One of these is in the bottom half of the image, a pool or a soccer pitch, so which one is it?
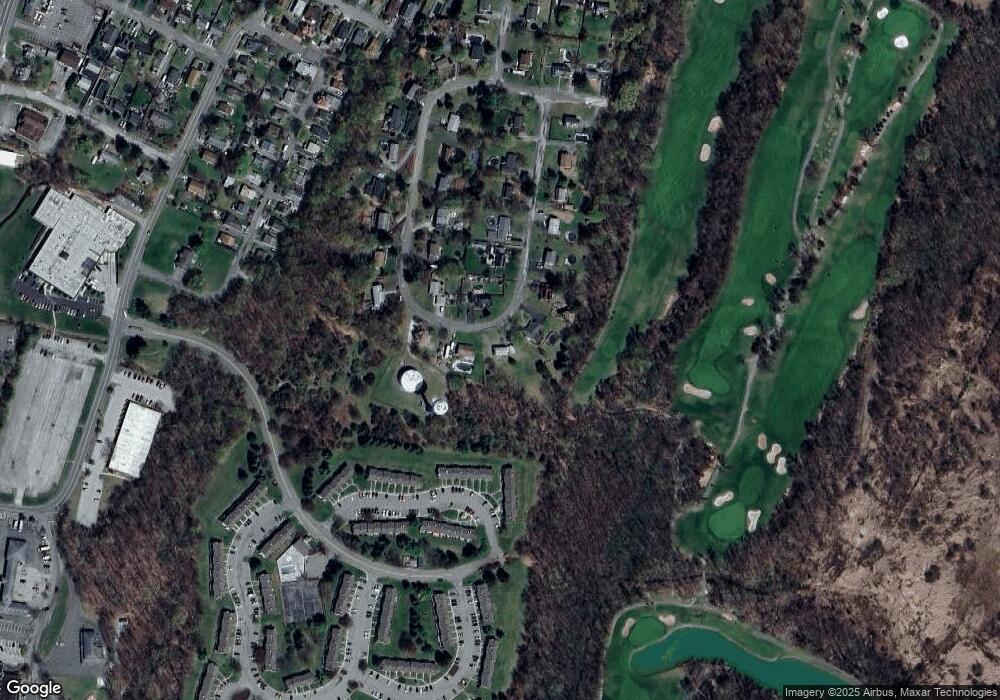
pool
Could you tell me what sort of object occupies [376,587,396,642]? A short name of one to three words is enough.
building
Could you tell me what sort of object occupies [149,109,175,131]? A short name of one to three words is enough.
house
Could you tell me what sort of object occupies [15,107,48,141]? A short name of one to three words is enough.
building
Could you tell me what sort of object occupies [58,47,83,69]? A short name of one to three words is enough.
house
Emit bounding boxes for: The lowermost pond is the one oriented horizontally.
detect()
[630,627,864,700]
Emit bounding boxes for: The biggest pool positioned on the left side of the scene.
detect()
[277,547,330,582]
